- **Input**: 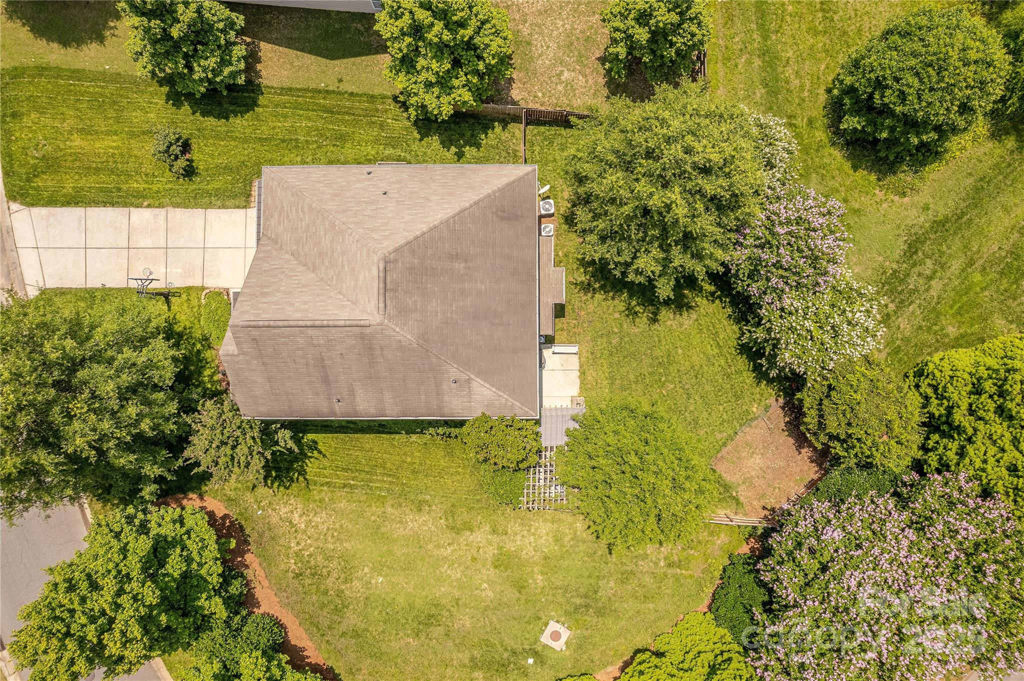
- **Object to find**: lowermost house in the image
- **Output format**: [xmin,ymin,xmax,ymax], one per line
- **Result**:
[219,162,566,421]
